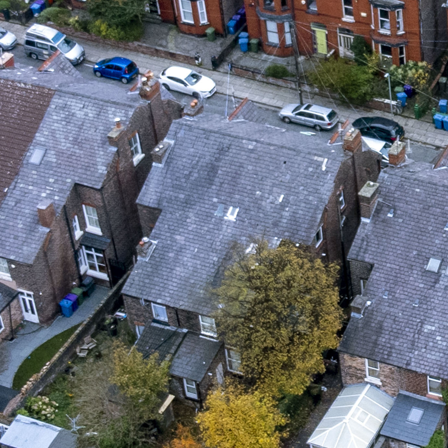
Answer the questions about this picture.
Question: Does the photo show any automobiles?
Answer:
Yes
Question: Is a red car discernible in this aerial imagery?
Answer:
No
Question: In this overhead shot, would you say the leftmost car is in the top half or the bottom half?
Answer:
top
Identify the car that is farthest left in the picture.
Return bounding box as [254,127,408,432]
[0,23,21,50]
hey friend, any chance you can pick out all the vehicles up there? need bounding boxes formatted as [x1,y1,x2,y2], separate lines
[154,65,216,99]
[355,118,415,149]
[0,23,21,50]
[275,100,339,133]
[92,55,141,83]
[26,22,94,69]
